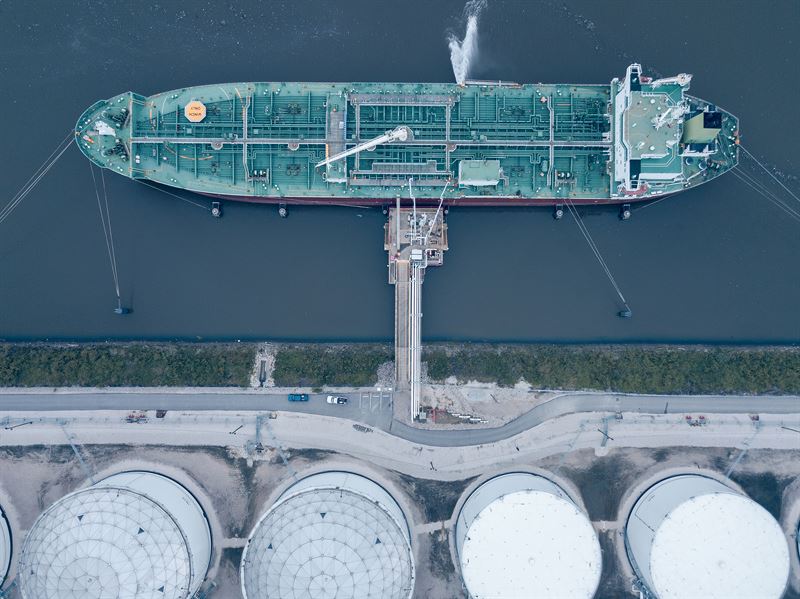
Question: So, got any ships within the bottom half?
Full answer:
No, I can find no ship within the bottom half.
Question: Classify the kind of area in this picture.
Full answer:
This image shows an industrial area.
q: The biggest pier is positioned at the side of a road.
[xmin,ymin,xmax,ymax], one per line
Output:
[384,208,448,421]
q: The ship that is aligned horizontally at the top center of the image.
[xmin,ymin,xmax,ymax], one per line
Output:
[68,65,740,205]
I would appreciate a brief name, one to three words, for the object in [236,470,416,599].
storage tank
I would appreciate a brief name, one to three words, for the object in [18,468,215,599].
storage tank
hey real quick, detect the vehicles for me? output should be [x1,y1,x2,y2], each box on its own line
[327,396,348,405]
[288,394,309,402]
